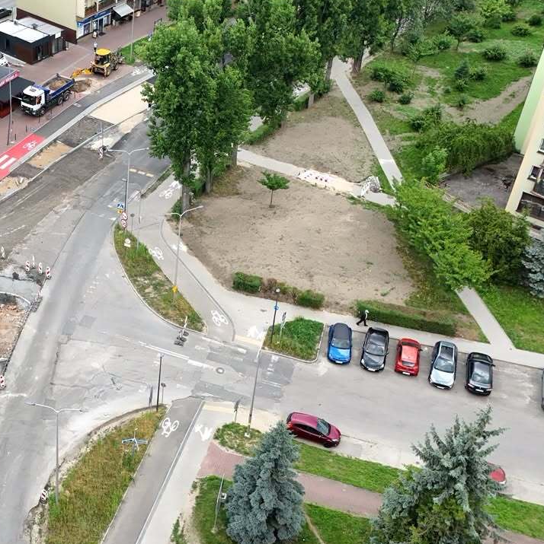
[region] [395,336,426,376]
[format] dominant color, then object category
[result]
red car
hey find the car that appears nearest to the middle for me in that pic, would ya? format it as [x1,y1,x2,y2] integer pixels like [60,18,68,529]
[327,320,355,363]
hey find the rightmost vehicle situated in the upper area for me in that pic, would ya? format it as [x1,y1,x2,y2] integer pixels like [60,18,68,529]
[70,45,130,80]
